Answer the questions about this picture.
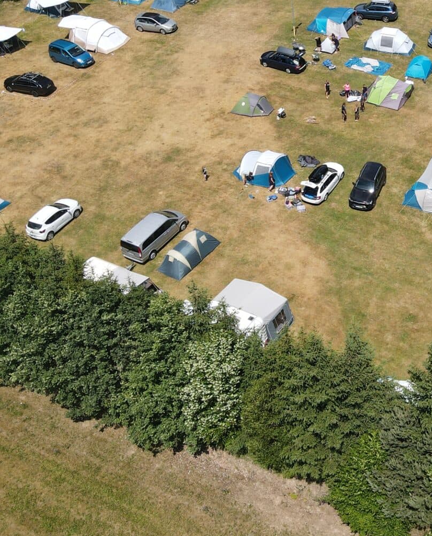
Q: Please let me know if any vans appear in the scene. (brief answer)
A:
Yes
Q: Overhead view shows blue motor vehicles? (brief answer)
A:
Yes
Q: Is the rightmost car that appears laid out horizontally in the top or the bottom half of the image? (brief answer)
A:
top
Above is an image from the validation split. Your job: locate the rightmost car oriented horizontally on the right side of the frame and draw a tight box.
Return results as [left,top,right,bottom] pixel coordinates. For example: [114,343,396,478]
[352,0,400,22]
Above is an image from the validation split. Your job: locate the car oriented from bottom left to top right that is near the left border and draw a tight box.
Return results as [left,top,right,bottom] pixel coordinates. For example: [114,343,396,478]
[16,199,82,246]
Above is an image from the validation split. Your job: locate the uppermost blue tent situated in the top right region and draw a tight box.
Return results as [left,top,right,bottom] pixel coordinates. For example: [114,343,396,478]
[308,7,369,39]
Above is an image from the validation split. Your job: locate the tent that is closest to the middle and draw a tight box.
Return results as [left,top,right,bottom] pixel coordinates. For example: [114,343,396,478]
[158,234,221,281]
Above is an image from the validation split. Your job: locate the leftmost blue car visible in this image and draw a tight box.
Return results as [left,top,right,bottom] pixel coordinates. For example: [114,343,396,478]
[45,36,94,68]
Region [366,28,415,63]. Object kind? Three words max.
tent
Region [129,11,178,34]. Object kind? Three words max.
car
